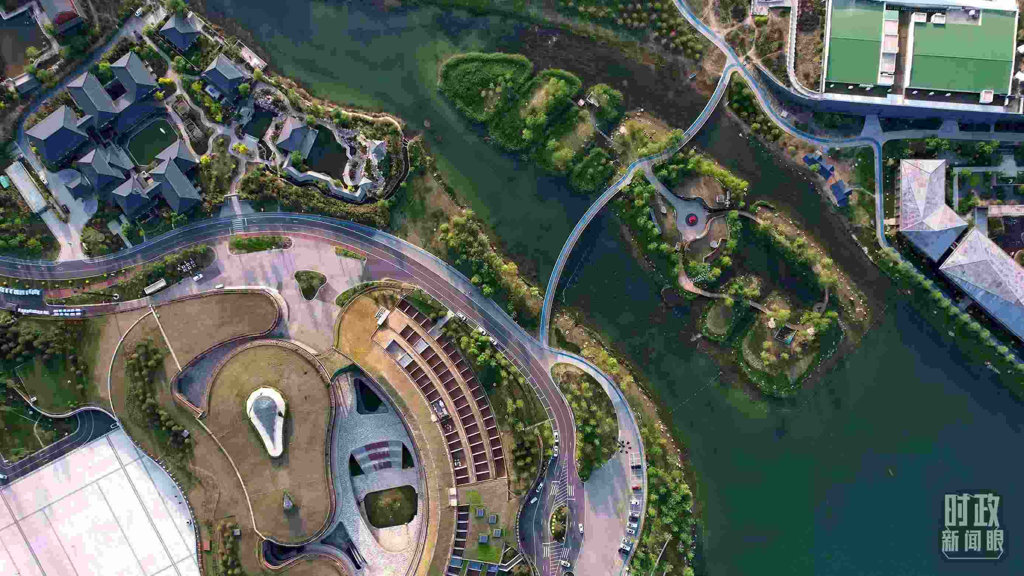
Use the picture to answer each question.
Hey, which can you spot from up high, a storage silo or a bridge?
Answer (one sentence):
The one in the frame is a bridge.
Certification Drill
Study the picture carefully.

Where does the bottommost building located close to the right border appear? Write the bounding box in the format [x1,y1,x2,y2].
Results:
[936,227,1024,340]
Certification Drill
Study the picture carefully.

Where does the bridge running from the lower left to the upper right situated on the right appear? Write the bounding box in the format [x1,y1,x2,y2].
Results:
[539,61,742,348]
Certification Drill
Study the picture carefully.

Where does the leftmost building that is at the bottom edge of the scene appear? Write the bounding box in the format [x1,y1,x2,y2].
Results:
[0,423,201,576]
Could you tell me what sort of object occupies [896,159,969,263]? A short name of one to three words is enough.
building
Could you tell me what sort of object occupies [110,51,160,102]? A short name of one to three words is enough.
house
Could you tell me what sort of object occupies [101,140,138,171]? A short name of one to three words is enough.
house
